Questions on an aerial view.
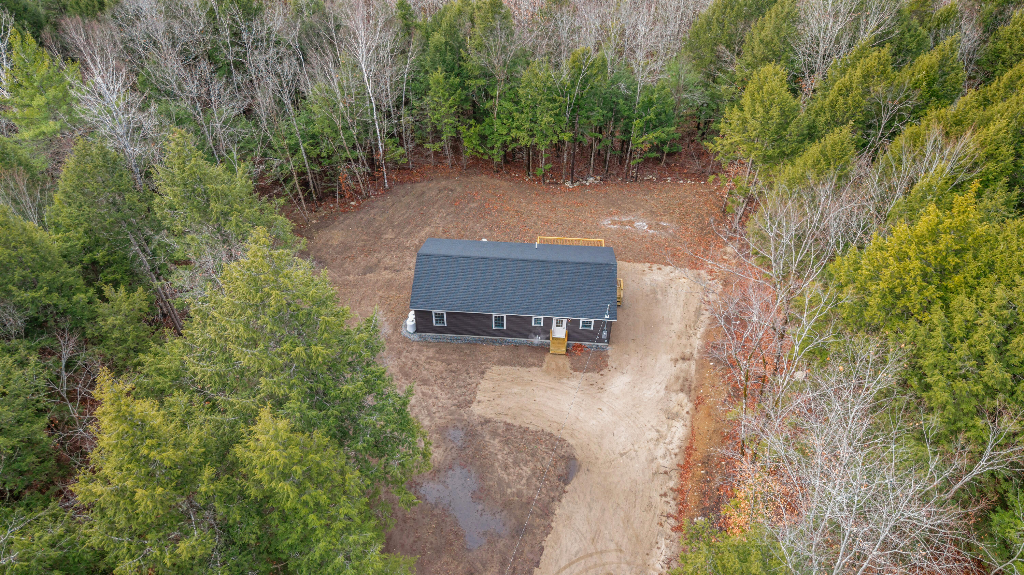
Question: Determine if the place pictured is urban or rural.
rural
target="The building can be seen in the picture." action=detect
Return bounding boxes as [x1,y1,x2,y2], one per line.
[409,238,618,345]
